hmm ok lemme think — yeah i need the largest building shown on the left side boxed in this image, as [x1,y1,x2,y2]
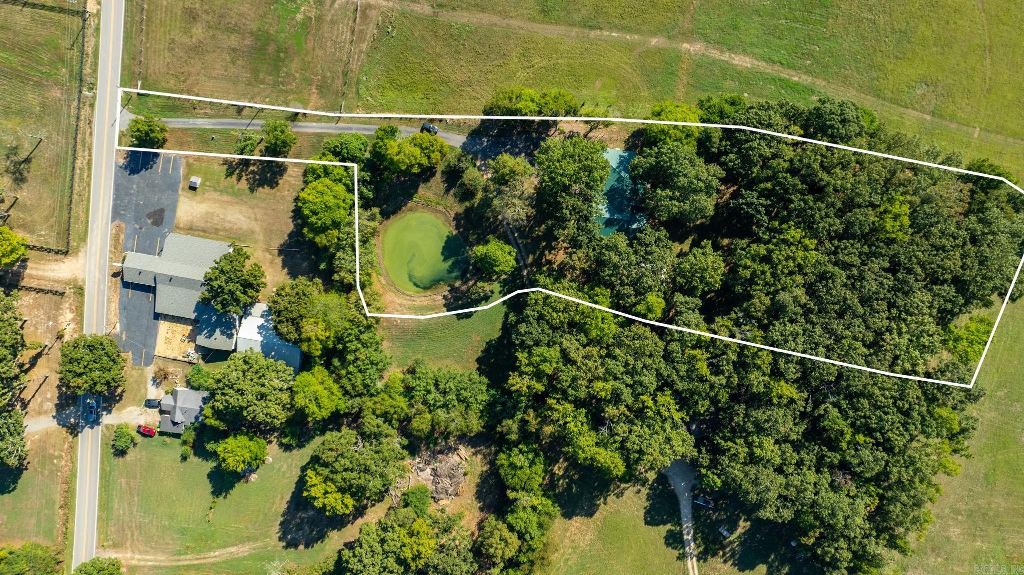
[123,232,241,350]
